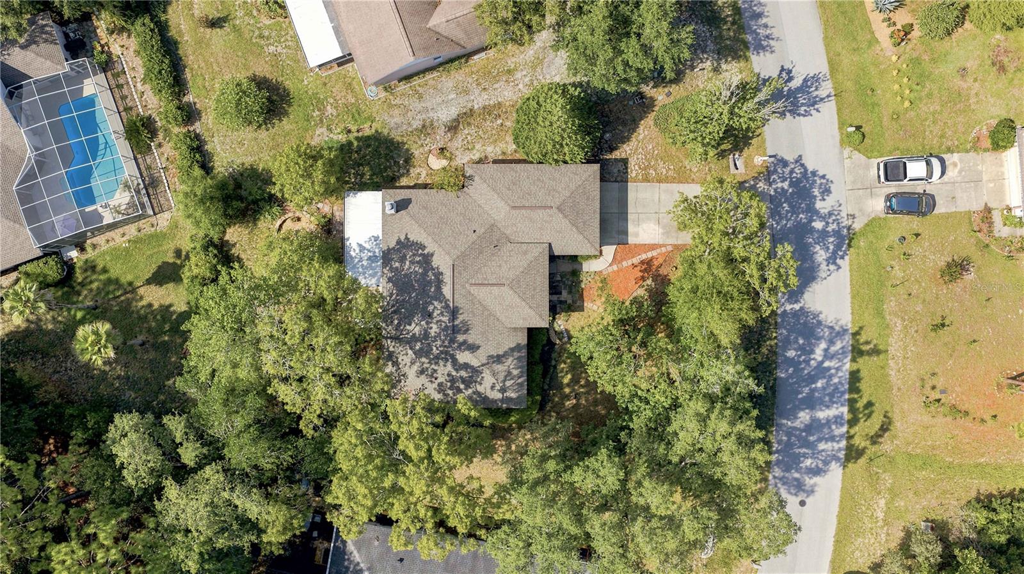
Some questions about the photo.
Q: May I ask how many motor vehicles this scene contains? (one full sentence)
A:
I count 2 motor vehicles.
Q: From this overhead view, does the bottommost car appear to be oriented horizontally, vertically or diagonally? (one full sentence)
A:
In this picture, the bottommost car lies horizontally.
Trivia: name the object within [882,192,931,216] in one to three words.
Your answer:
car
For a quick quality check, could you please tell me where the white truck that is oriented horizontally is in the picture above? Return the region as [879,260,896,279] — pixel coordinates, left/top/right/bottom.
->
[876,158,941,184]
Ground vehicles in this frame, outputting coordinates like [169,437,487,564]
[882,192,931,216]
[876,158,941,184]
